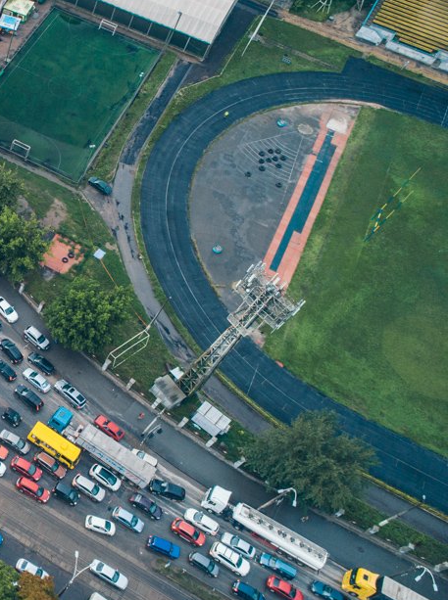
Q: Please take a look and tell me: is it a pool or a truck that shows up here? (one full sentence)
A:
Looking from above, you can make out a truck.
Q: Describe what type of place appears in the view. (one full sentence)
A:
The picture captures a sports ground.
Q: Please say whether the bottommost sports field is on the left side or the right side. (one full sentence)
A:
It is on the right.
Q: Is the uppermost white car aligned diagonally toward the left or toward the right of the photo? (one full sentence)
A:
You can find the uppermost white car aligned diagonally on the left side of the picture.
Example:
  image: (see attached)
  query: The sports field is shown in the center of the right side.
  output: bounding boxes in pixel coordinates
[268,103,448,453]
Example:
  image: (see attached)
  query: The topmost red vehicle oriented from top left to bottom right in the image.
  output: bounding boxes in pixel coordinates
[93,415,126,442]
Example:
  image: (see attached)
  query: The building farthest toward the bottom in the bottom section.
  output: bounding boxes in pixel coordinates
[188,402,231,441]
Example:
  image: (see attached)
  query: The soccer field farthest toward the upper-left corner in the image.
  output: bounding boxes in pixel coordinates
[0,8,161,180]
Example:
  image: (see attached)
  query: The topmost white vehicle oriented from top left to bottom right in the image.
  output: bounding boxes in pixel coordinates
[0,296,20,325]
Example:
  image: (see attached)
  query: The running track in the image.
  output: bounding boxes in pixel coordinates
[139,56,448,509]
